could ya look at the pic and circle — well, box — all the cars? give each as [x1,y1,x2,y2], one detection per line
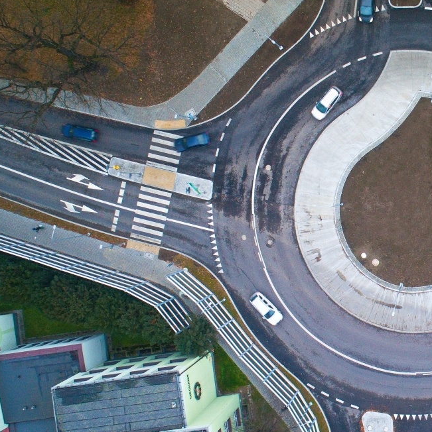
[173,134,210,151]
[311,85,341,119]
[59,122,97,142]
[356,0,374,23]
[248,293,283,327]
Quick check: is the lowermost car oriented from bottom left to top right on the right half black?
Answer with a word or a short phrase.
No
